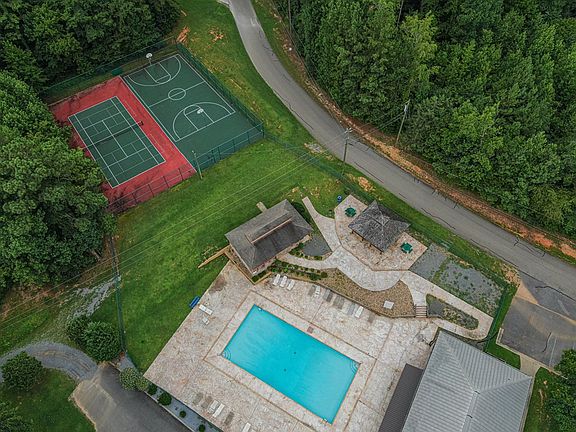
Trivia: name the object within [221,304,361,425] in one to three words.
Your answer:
swimming pool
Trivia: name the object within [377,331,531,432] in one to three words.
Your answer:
building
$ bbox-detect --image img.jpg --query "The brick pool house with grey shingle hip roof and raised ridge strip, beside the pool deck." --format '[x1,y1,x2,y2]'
[224,199,314,275]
